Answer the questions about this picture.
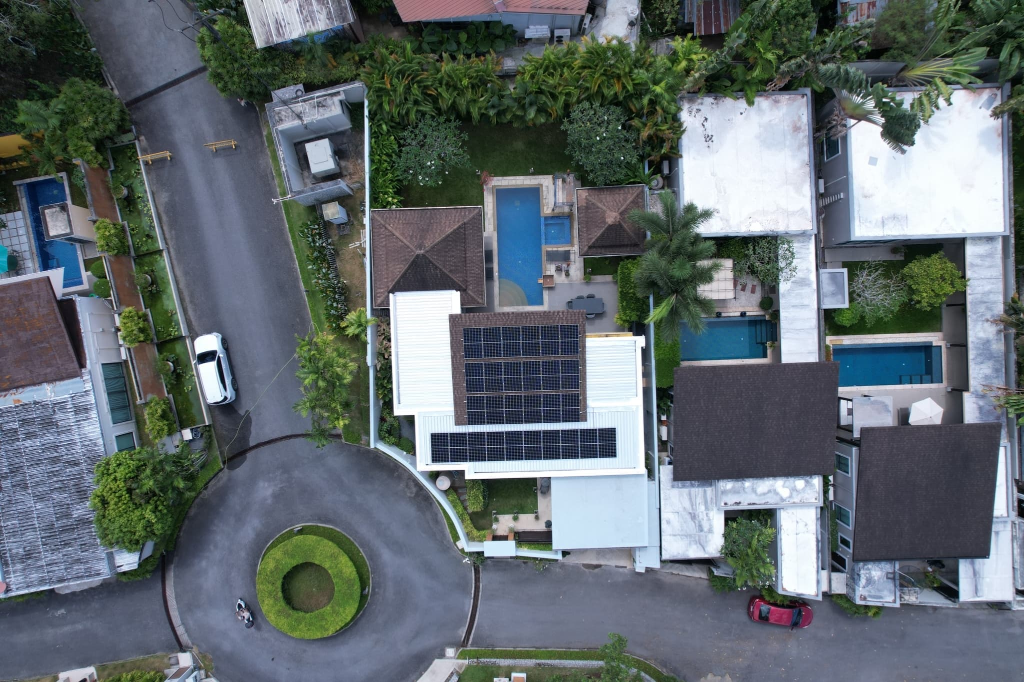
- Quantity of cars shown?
2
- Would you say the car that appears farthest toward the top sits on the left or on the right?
left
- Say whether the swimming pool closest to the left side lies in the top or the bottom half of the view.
top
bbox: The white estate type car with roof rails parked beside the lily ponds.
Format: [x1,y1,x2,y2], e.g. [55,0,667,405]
[196,335,239,406]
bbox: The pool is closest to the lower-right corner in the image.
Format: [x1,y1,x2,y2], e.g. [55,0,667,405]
[829,338,947,390]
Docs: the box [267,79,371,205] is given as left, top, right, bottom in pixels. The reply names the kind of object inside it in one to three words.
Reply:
building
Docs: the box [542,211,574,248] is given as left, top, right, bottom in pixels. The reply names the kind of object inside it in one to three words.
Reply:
swimming pool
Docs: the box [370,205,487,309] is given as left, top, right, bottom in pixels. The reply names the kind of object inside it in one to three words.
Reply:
building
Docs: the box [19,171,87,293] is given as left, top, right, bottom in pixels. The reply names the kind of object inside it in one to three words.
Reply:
swimming pool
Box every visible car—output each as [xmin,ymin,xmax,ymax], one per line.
[196,335,239,406]
[746,595,812,632]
